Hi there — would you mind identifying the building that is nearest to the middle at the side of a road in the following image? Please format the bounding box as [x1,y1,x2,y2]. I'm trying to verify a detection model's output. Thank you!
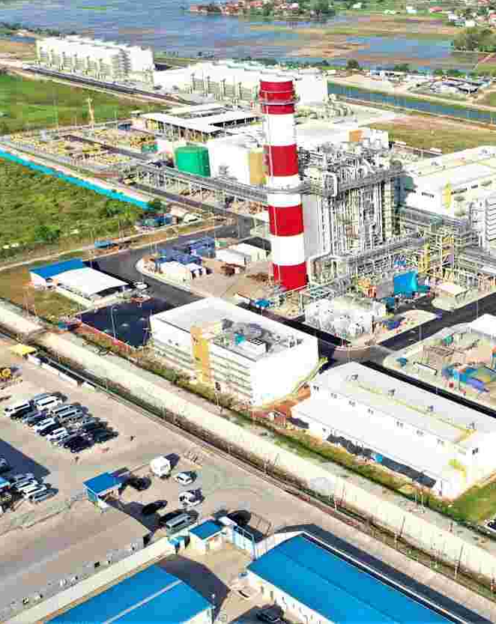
[153,296,319,409]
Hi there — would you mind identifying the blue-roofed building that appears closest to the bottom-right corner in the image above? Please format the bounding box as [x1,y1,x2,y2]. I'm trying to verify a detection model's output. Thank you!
[240,533,462,624]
